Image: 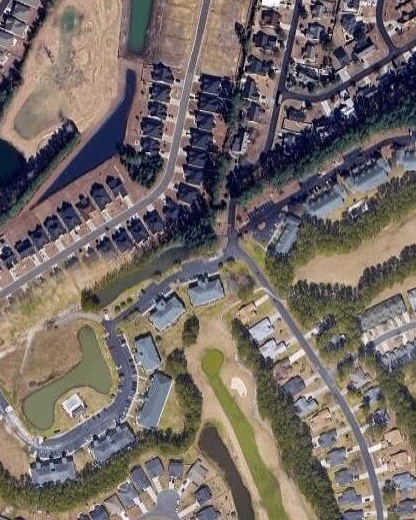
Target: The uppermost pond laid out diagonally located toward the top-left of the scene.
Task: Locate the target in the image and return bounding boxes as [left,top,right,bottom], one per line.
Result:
[30,66,136,210]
